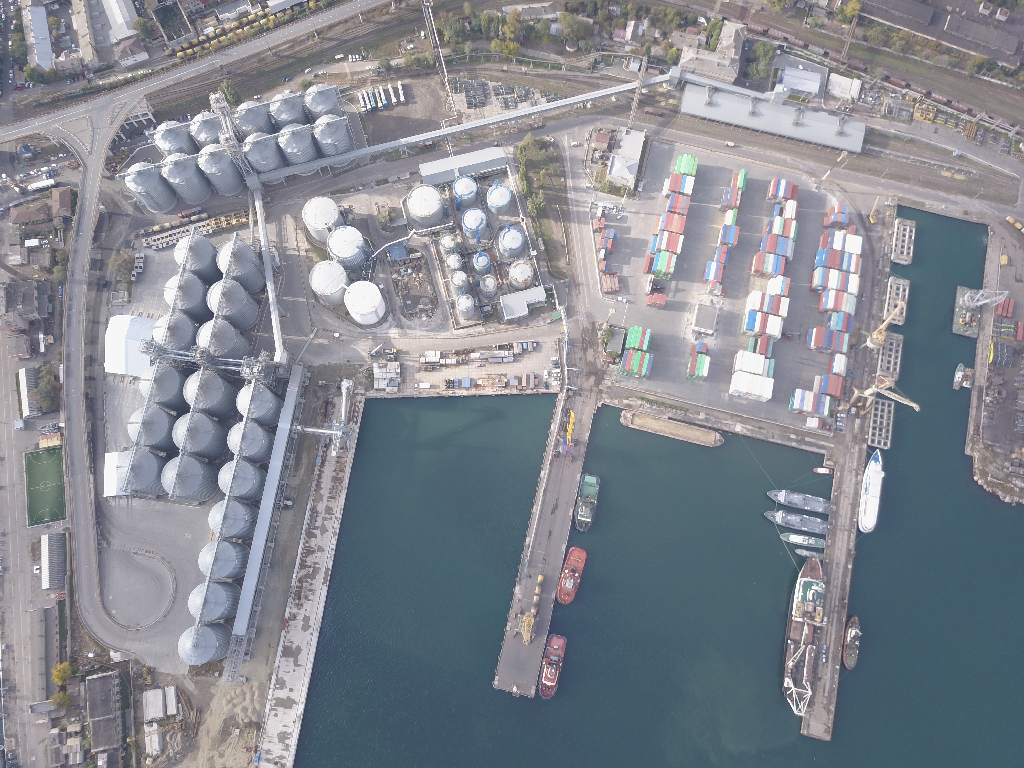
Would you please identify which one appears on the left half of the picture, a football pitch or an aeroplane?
football pitch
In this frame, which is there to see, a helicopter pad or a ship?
ship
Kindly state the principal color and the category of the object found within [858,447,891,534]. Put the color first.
white ship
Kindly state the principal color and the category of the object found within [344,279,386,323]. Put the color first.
white storage tank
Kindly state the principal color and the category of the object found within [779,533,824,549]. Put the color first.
white boat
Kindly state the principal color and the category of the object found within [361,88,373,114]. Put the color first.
white vehicle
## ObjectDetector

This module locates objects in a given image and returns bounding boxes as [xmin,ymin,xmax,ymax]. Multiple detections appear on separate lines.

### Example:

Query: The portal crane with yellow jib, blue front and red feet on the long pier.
[553,410,580,464]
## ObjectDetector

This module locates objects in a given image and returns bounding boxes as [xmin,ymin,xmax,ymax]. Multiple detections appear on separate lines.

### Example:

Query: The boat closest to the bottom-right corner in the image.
[842,616,862,670]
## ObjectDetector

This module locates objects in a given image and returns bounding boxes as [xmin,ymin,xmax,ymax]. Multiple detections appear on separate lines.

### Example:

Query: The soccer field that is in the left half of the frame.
[17,447,67,528]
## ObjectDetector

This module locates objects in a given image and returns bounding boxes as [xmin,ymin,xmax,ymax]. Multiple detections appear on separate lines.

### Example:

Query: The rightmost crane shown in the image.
[950,285,1009,339]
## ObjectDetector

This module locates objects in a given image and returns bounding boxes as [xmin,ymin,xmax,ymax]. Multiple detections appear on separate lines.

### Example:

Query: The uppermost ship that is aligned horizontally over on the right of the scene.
[620,408,725,449]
